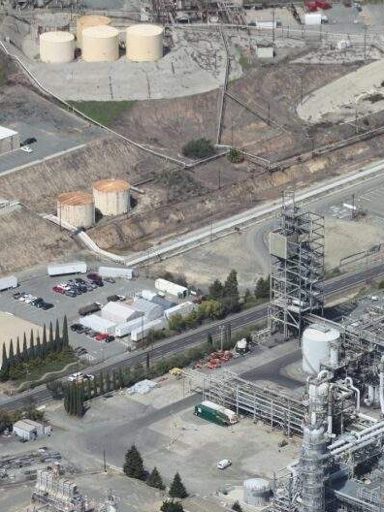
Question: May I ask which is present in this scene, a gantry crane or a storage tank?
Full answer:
I can see a storage tank in this picture.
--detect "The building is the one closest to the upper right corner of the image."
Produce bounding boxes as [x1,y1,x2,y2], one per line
[251,45,278,63]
